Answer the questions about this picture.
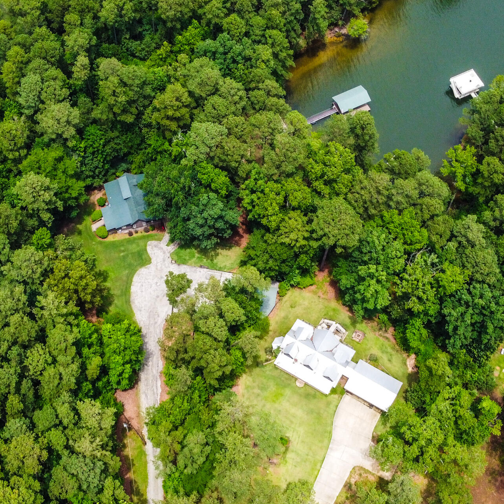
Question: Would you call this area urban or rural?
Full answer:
It looks rural.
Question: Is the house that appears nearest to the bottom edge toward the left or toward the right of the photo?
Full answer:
You can find the house that appears nearest to the bottom edge on the right side of the picture.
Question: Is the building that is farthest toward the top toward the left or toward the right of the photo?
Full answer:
The building that is farthest toward the top is on the right side of the image.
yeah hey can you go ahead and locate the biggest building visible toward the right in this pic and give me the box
[272,317,403,412]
